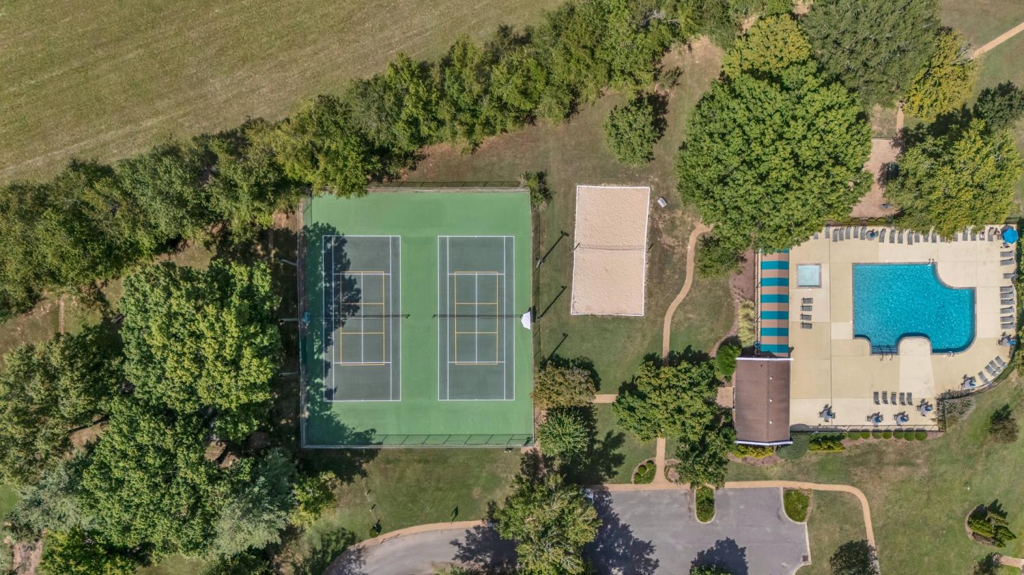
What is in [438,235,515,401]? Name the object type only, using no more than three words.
tennis court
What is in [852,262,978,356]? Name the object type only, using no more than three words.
swimming pool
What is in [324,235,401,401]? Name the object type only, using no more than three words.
tennis court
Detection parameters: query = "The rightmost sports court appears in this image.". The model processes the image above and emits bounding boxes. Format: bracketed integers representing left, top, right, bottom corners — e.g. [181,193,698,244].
[571,185,650,316]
